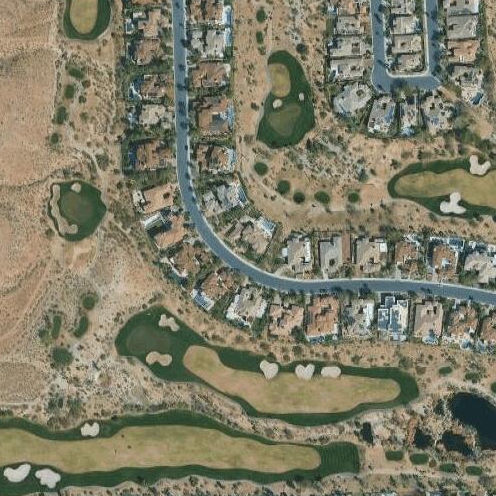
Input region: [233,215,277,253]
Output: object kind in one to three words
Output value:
house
